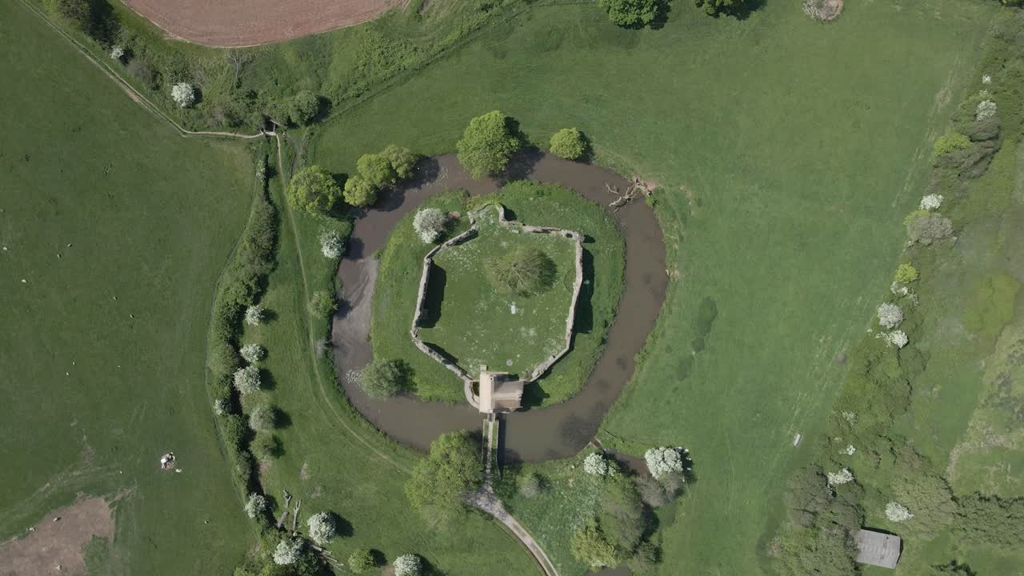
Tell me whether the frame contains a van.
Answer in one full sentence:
No, no van is visible in the scene.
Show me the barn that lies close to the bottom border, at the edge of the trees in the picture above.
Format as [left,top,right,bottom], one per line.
[851,528,901,568]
